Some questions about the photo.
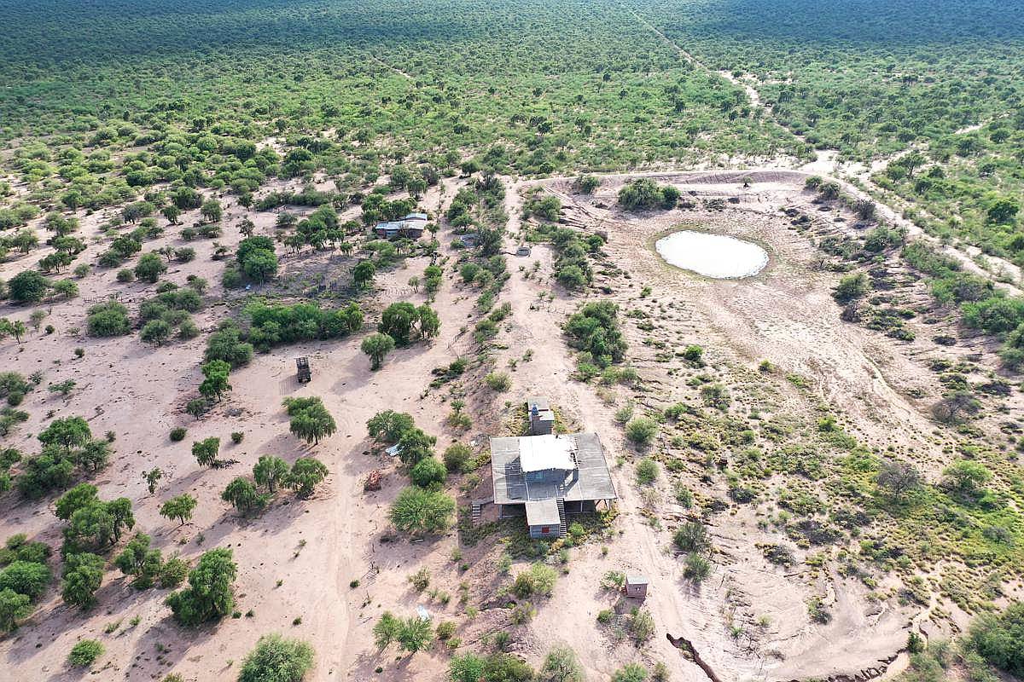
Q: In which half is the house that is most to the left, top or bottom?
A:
top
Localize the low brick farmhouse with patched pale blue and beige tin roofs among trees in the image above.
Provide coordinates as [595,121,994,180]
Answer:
[376,213,430,241]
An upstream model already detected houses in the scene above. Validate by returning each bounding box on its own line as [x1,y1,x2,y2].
[472,431,615,536]
[376,213,430,241]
